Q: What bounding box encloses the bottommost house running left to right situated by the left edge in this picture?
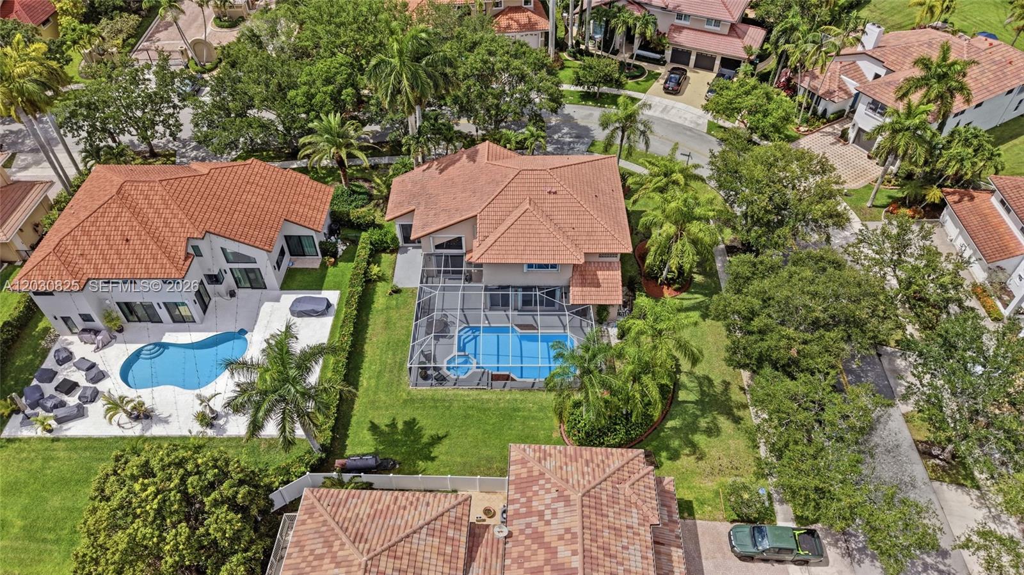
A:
[4,160,336,333]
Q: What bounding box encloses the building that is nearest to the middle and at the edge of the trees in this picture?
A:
[384,140,634,323]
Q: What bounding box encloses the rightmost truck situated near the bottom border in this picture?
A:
[727,523,829,568]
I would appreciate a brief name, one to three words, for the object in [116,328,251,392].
swimming pool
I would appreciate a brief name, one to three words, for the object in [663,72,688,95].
car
